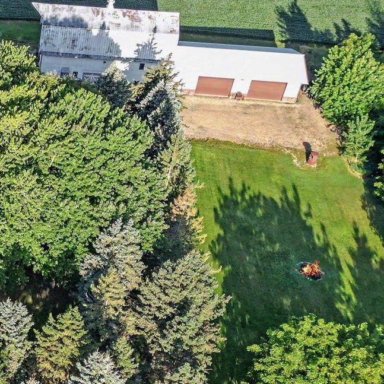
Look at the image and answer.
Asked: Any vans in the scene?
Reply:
No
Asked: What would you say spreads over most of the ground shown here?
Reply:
trees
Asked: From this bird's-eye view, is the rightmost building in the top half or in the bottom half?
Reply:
top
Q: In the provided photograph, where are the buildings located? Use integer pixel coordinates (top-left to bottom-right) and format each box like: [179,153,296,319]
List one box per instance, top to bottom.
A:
[33,0,181,87]
[177,40,310,105]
